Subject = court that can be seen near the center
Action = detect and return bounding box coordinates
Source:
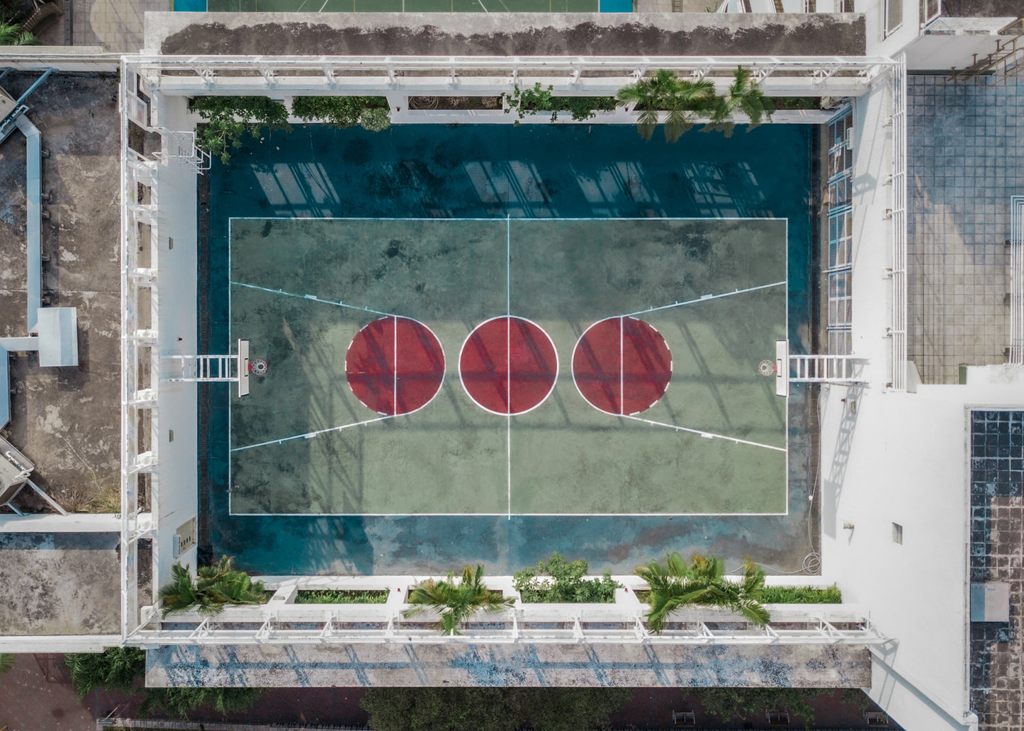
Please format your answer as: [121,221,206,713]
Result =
[198,117,821,575]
